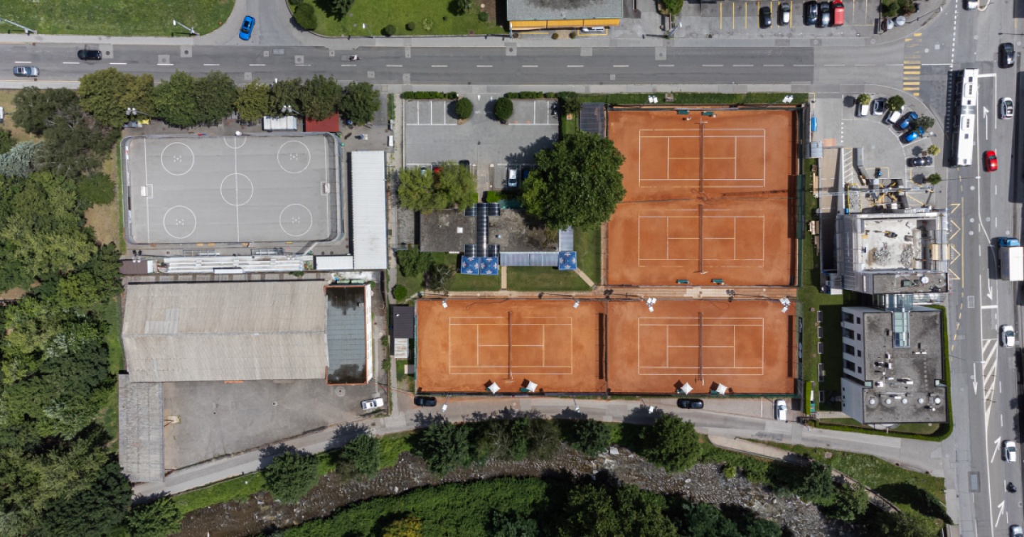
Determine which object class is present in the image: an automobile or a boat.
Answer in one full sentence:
This aerial view contains an automobile.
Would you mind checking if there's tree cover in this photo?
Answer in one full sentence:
Yes, tree cover shows up in the scene.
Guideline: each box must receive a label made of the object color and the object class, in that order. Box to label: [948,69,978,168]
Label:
white bus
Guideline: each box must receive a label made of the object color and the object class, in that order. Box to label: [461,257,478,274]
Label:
blue umbrella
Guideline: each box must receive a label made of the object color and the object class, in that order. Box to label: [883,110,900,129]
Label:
white car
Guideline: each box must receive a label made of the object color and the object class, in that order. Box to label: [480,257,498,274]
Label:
blue umbrella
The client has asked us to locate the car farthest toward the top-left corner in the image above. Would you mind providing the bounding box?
[12,65,40,77]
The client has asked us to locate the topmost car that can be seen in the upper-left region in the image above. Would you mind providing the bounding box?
[239,16,253,40]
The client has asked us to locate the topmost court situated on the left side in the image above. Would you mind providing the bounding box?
[119,133,343,245]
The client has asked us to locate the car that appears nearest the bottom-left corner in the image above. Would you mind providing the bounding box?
[359,398,385,410]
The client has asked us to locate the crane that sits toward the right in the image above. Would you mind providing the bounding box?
[816,182,934,207]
